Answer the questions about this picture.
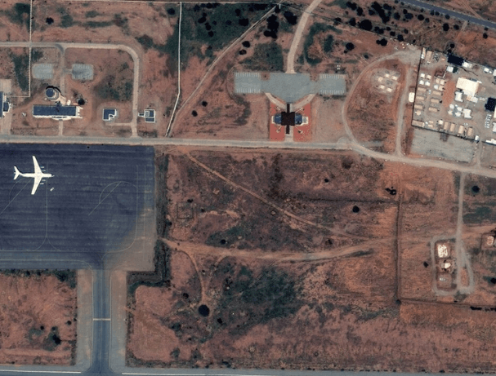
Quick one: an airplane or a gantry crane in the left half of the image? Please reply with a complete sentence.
There is an airplane in the left half of the image.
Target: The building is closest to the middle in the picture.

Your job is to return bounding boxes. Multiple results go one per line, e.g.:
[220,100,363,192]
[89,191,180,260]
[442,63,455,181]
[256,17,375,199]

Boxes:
[271,104,309,134]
